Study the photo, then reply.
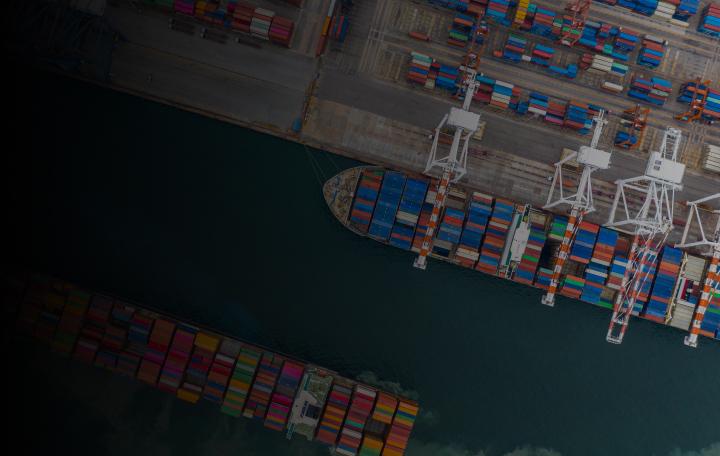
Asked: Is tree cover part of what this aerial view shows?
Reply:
No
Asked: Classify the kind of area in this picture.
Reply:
port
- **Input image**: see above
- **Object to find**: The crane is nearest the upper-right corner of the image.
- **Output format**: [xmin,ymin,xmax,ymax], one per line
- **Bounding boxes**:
[665,80,709,126]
